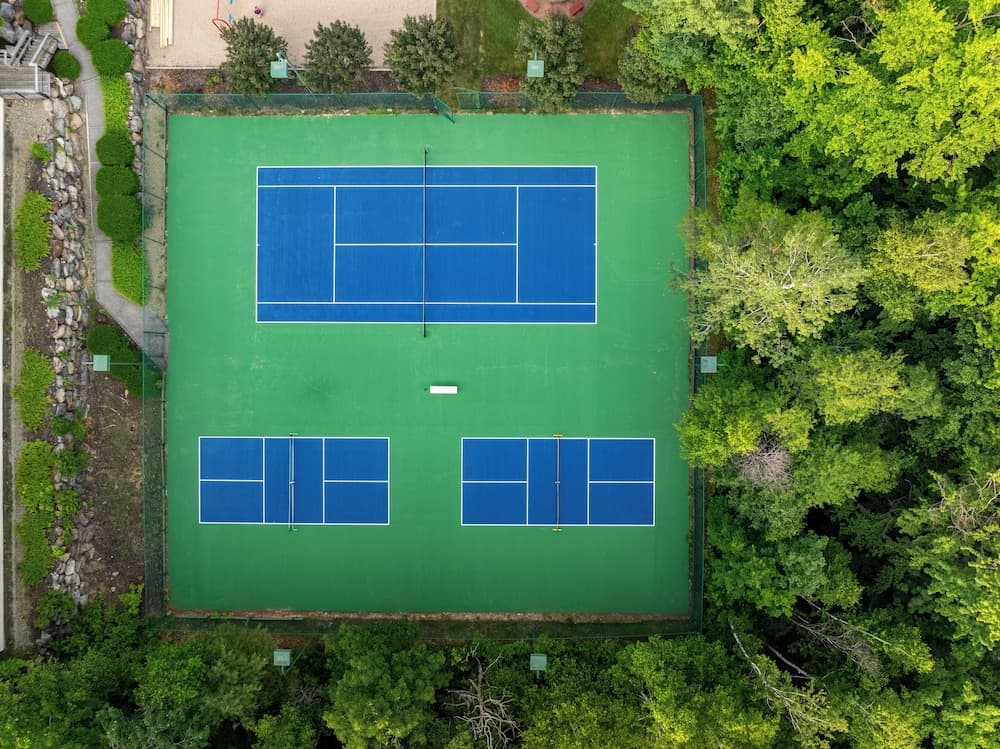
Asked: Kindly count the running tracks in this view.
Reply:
0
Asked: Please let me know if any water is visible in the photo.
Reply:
No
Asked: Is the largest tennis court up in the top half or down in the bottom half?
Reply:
top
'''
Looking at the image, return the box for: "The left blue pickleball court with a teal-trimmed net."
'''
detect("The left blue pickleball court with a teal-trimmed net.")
[198,437,390,525]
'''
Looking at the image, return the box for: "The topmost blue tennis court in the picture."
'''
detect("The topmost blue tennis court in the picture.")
[256,165,598,324]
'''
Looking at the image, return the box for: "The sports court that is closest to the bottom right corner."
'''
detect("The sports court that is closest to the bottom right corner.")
[461,437,655,526]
